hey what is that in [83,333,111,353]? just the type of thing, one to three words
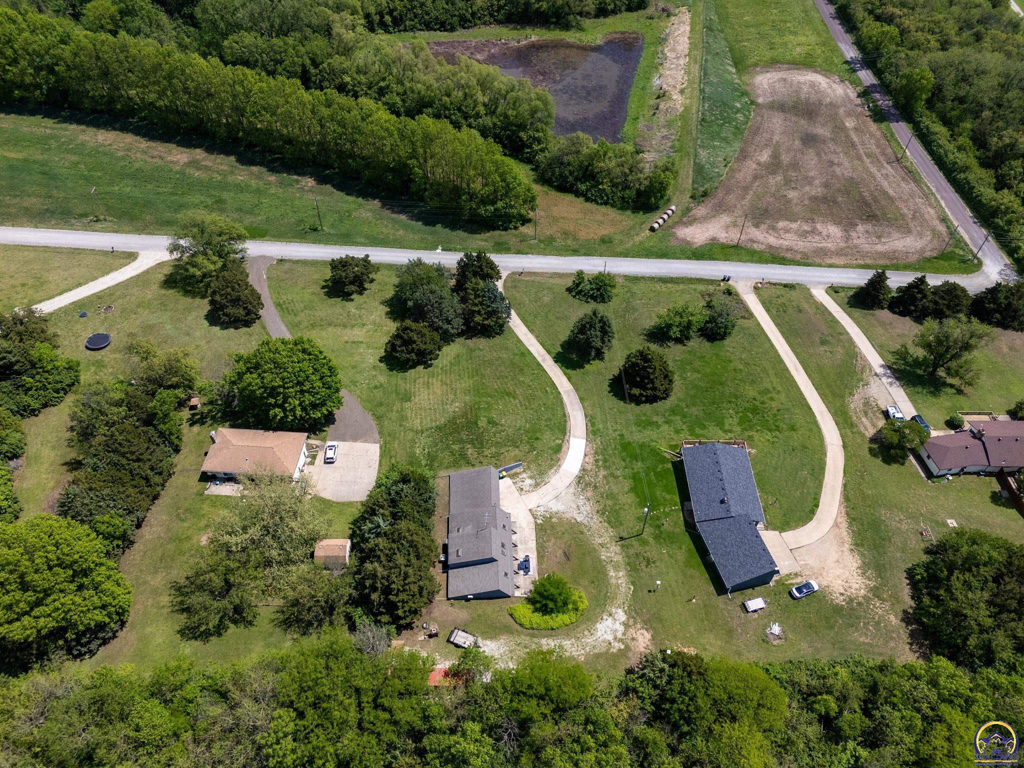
trampoline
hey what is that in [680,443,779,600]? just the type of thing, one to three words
house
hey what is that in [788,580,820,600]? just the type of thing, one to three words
car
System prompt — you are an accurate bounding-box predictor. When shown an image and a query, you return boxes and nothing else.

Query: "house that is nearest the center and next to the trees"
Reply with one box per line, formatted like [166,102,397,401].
[431,465,521,601]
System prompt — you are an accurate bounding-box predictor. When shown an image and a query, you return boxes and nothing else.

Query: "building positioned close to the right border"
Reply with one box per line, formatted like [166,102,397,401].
[922,420,1024,478]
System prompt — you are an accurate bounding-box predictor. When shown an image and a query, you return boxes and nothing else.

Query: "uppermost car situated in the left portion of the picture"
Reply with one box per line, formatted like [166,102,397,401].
[322,441,338,464]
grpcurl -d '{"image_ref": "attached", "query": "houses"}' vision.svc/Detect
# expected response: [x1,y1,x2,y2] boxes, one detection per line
[922,420,1024,478]
[431,465,521,601]
[201,427,308,485]
[680,443,779,600]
